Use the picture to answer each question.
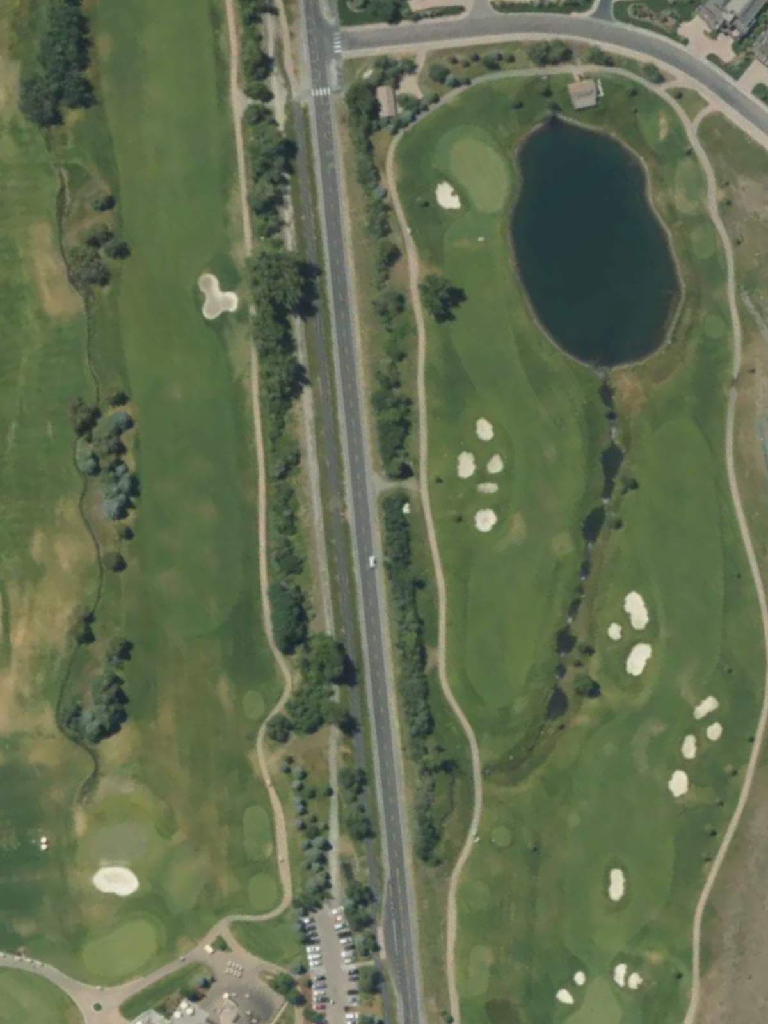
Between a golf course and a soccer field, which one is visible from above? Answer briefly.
golf course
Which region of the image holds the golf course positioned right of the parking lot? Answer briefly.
right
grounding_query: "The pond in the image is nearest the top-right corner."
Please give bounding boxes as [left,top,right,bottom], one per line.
[511,116,682,369]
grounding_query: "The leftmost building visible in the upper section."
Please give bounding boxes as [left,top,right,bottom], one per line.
[376,85,396,117]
